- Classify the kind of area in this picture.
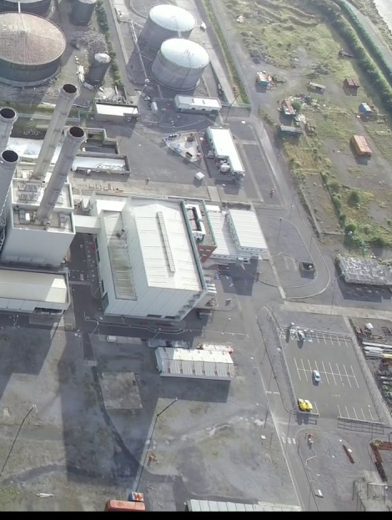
industrial area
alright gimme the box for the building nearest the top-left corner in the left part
[91,102,139,125]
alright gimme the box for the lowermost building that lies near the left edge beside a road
[0,269,70,314]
